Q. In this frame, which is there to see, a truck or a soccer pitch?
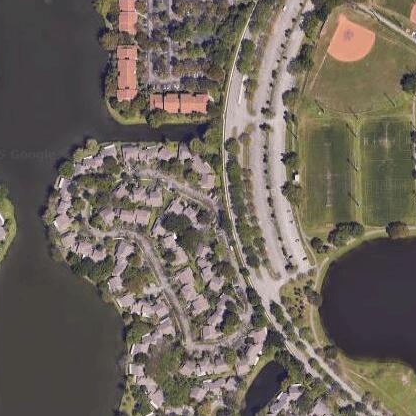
soccer pitch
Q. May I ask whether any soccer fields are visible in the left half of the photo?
No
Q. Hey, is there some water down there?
Yes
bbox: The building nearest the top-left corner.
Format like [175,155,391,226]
[118,0,139,33]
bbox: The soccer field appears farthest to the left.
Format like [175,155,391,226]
[306,120,352,228]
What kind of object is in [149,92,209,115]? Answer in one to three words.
building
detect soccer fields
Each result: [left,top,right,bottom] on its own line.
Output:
[360,119,416,227]
[306,120,352,228]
